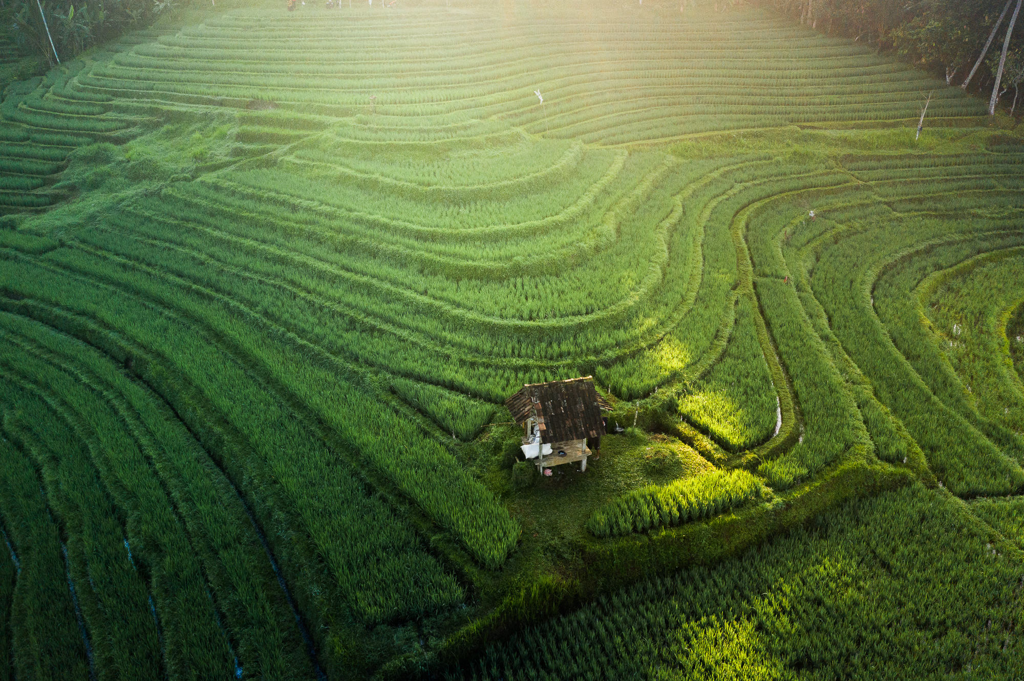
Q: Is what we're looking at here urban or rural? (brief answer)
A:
rural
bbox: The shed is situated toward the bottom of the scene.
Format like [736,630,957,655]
[508,372,616,475]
